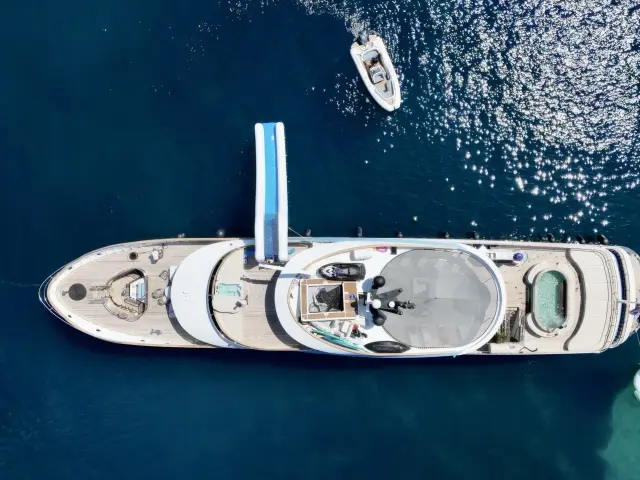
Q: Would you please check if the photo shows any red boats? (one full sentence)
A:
No, the photo shows no red boat.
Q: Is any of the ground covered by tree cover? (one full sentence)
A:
No, the picture contains no tree cover.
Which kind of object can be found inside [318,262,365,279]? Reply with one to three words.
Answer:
boat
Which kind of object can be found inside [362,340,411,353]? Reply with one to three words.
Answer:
boat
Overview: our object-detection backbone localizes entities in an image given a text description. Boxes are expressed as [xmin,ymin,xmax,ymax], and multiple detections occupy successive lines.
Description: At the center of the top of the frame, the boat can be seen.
[352,33,402,111]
